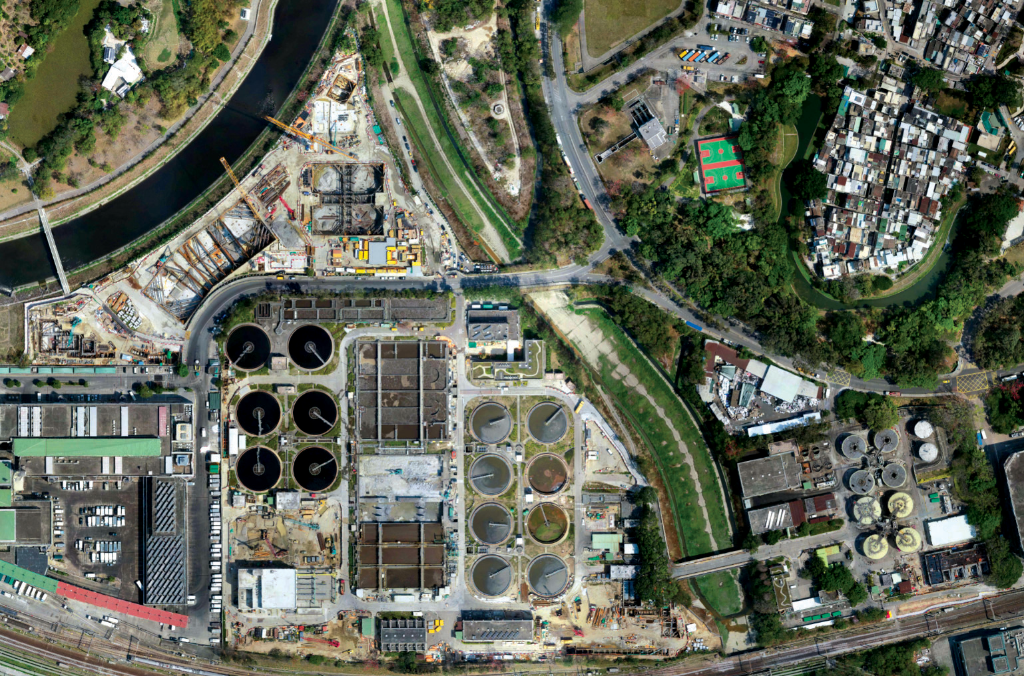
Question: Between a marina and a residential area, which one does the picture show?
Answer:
residential area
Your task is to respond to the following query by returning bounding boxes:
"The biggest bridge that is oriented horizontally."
[673,548,752,580]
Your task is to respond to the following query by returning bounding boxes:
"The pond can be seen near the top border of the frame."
[8,0,102,147]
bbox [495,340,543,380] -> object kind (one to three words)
building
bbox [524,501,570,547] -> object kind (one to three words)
storage tank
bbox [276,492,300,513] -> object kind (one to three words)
shed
